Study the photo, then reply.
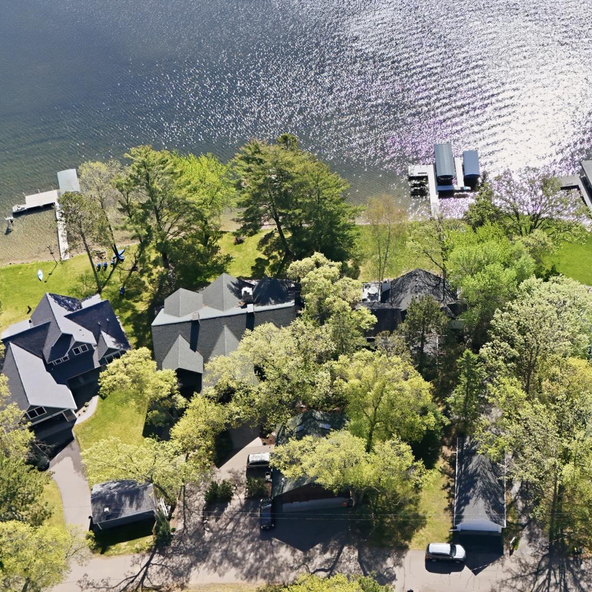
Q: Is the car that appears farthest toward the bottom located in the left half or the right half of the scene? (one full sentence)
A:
It is on the right.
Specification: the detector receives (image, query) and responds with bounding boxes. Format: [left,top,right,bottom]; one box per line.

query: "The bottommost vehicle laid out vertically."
[255,497,277,538]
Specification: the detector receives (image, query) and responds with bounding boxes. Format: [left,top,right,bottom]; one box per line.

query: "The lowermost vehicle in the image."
[425,544,466,565]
